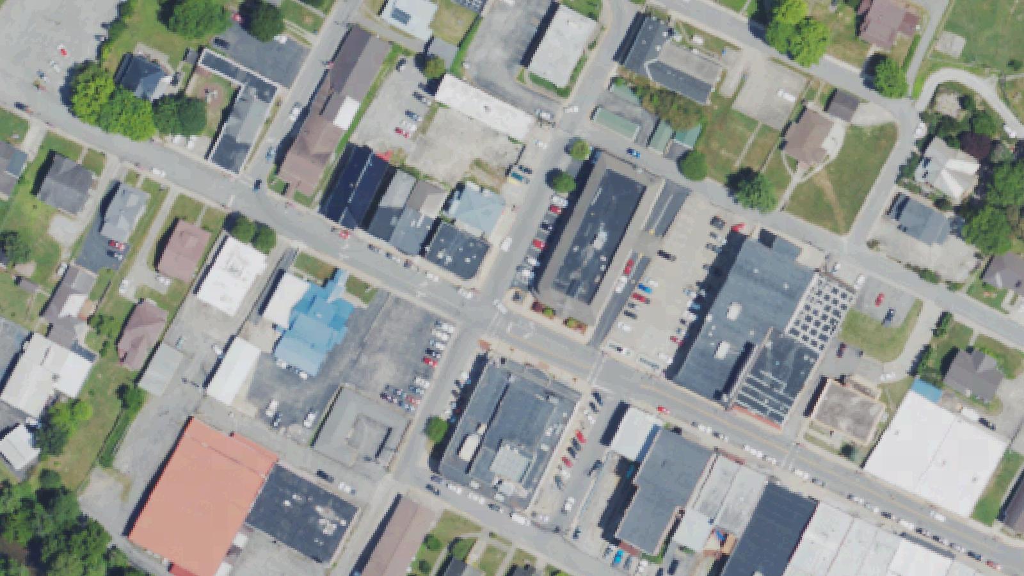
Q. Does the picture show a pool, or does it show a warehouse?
warehouse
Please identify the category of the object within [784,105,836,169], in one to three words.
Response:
house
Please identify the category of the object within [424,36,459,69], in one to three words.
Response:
building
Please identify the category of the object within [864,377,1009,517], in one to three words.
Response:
warehouse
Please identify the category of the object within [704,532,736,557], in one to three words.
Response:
shed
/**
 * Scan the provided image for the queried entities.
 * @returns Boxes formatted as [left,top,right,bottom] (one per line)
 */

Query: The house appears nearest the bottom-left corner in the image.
[0,423,41,479]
